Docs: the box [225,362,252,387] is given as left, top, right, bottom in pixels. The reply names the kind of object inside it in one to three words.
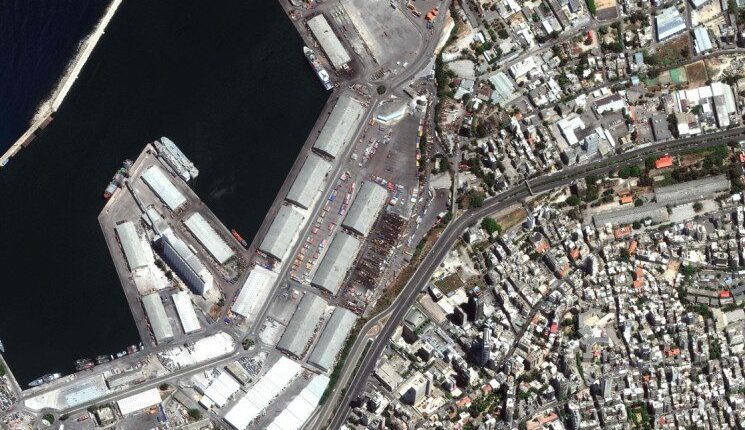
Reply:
building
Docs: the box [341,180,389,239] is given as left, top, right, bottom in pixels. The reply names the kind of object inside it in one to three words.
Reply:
building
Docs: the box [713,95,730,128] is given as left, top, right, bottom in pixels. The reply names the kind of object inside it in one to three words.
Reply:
shed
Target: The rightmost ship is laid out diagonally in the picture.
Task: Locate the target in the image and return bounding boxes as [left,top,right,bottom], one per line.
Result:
[304,45,335,91]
